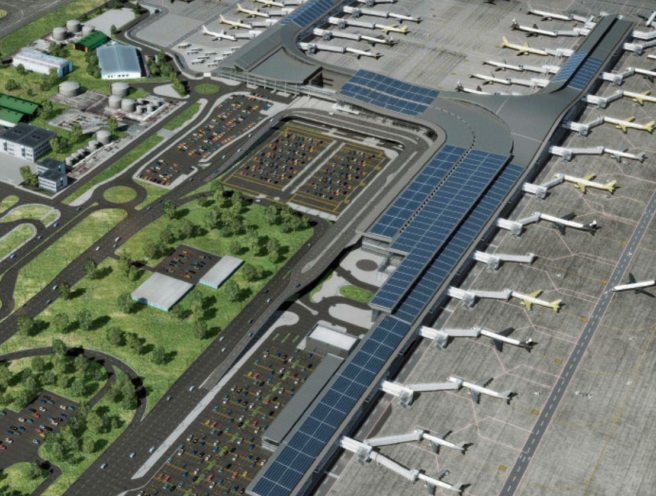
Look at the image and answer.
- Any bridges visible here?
Yes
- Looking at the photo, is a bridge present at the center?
Yes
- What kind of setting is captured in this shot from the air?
airport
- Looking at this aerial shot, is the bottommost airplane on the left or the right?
right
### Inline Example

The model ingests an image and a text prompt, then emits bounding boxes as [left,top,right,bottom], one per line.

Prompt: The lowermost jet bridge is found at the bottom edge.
[342,431,425,482]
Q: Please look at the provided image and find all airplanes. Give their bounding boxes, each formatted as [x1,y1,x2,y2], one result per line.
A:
[633,7,656,27]
[361,34,394,45]
[457,83,490,95]
[527,2,569,22]
[235,0,269,18]
[504,286,562,311]
[412,425,467,454]
[626,65,656,81]
[533,209,599,233]
[218,10,251,30]
[410,466,466,496]
[554,169,619,193]
[598,112,656,132]
[472,323,534,352]
[502,36,547,57]
[375,23,410,33]
[470,68,508,85]
[512,18,555,38]
[447,373,513,405]
[615,87,656,104]
[605,146,647,162]
[200,22,235,41]
[388,12,423,22]
[614,270,656,297]
[345,47,382,59]
[482,54,521,72]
